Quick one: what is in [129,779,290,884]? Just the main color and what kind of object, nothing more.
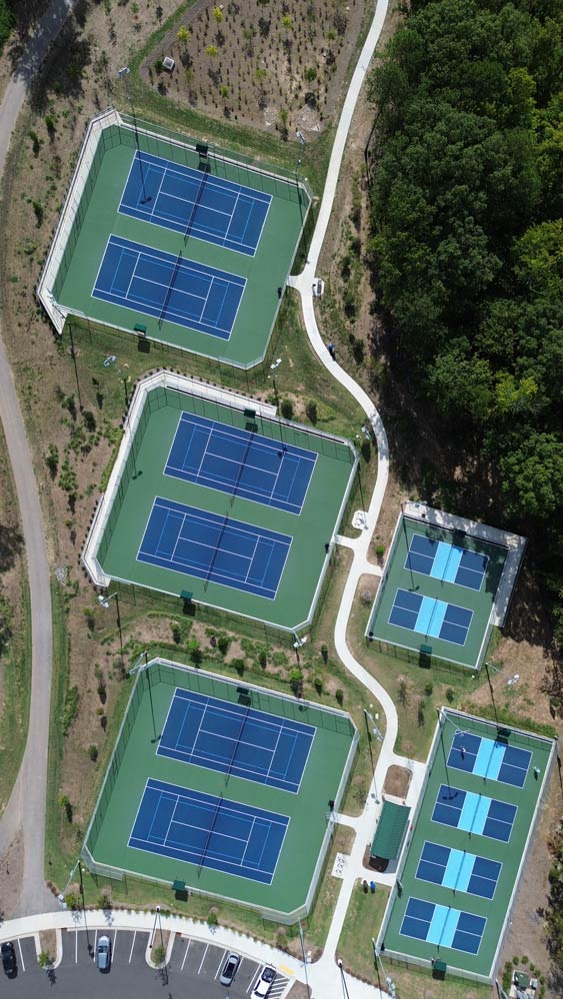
blue tennis court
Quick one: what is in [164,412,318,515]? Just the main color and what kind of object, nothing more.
blue tennis court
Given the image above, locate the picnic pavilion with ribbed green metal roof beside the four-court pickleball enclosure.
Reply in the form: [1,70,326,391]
[368,795,411,860]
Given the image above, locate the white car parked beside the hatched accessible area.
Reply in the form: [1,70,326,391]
[253,965,274,999]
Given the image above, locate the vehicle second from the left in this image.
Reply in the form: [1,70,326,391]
[96,935,110,968]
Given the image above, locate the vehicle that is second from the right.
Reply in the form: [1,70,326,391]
[221,952,239,984]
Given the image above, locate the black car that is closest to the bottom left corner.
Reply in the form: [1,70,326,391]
[2,942,18,974]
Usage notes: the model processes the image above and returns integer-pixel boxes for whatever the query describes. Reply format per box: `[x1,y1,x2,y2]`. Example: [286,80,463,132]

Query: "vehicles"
[253,965,274,999]
[221,952,239,984]
[96,935,110,968]
[2,942,18,974]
